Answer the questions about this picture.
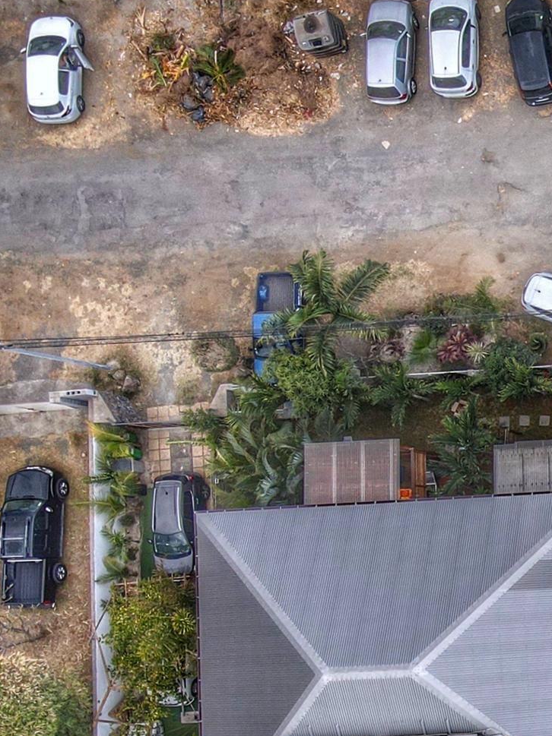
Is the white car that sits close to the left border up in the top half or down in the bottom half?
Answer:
top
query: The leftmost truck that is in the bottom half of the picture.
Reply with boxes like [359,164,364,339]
[0,468,71,604]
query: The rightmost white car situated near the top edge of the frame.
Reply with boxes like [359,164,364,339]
[423,0,482,101]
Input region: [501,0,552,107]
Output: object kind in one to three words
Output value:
car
